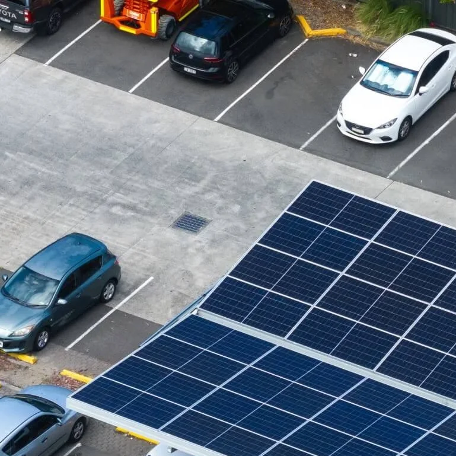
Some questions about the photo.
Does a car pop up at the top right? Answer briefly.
Yes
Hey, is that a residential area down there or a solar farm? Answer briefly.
solar farm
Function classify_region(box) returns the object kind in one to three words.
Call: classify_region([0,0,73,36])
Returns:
truck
